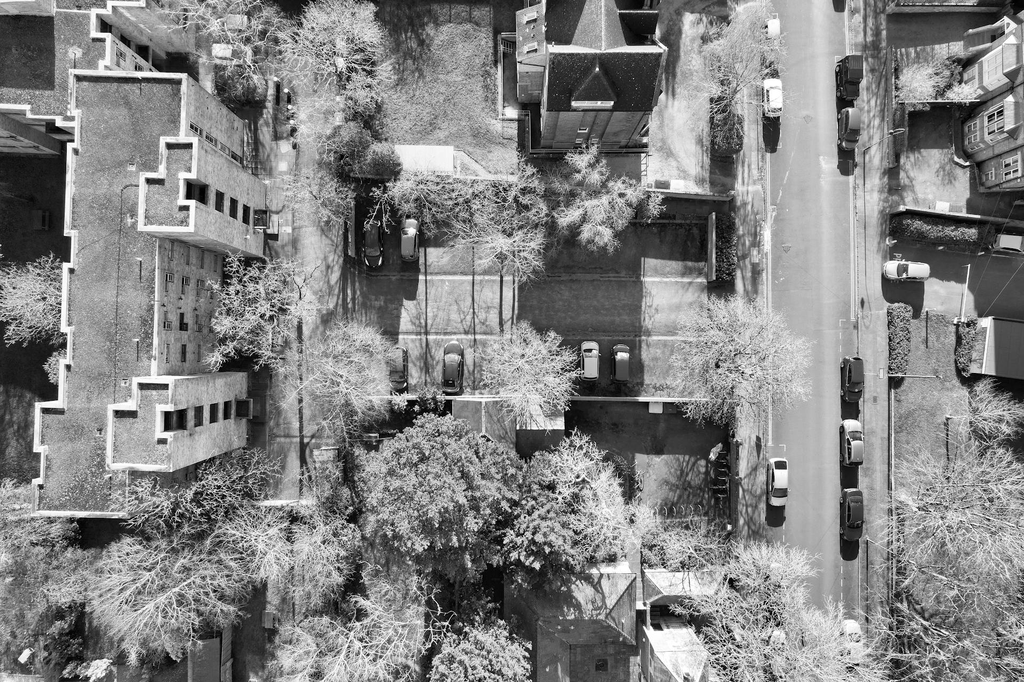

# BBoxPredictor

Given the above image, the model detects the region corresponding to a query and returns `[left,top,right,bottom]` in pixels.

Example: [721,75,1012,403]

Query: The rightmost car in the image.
[987,231,1024,256]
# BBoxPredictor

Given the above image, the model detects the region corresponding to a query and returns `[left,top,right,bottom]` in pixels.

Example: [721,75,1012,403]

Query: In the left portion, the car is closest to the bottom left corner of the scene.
[388,347,409,390]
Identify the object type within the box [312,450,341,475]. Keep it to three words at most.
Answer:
shed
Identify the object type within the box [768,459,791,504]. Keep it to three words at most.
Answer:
car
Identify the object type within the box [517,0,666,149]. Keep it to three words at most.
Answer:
house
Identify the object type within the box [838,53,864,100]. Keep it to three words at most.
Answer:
truck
